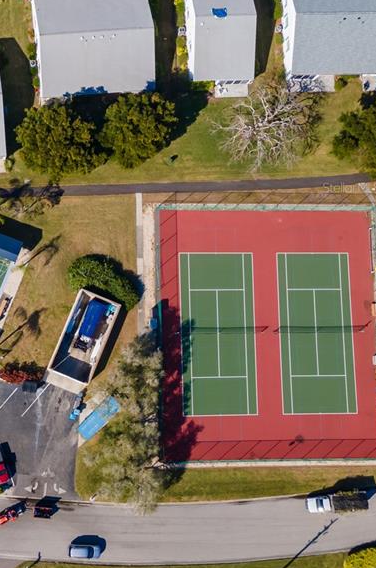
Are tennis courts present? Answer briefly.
Yes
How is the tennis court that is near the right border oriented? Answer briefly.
up and down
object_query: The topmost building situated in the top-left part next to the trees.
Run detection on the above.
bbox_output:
[31,0,155,101]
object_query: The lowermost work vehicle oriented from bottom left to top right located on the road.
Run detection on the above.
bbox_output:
[0,502,30,527]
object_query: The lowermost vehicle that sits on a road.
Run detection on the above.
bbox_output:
[69,538,104,556]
